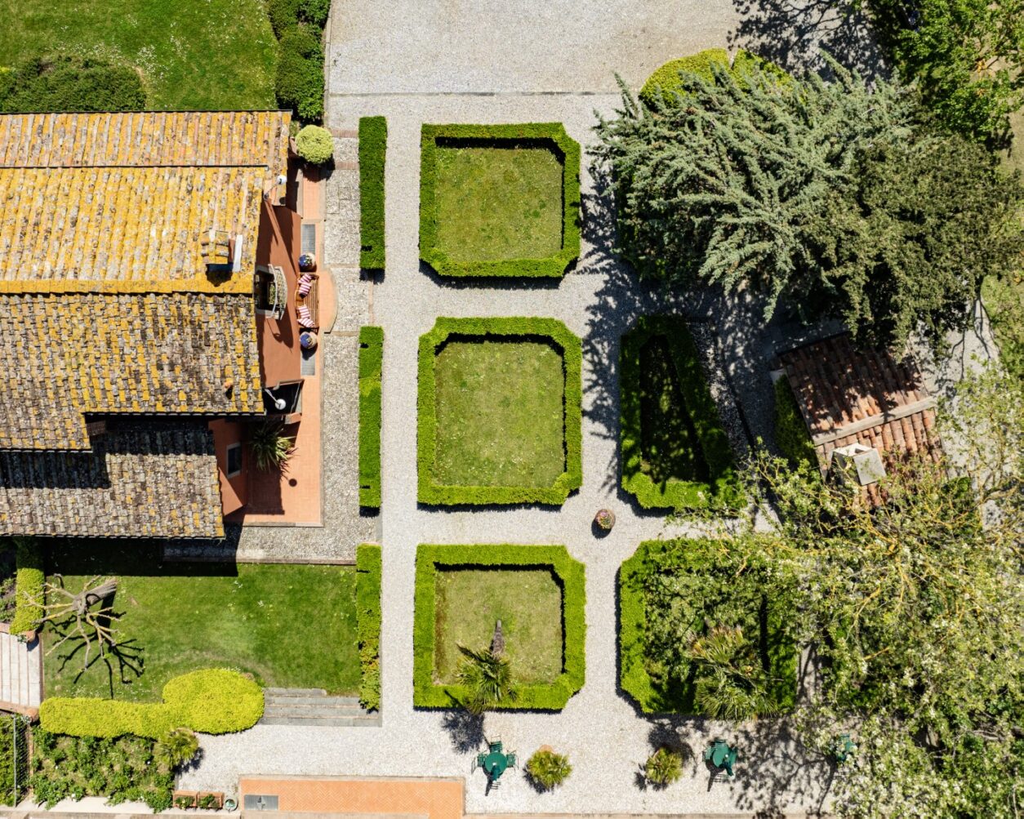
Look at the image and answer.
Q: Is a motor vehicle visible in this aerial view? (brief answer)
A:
No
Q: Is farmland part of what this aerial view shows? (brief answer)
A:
No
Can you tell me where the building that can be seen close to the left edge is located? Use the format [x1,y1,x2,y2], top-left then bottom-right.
[0,109,307,540]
